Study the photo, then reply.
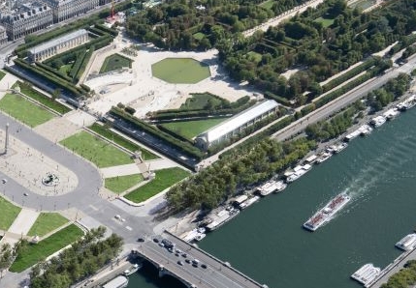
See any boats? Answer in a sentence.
Yes, a boat can be made out from above.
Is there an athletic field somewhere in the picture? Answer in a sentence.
No, there is no athletic field in the image.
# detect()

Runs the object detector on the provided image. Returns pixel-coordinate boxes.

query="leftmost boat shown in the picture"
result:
[102,274,127,288]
